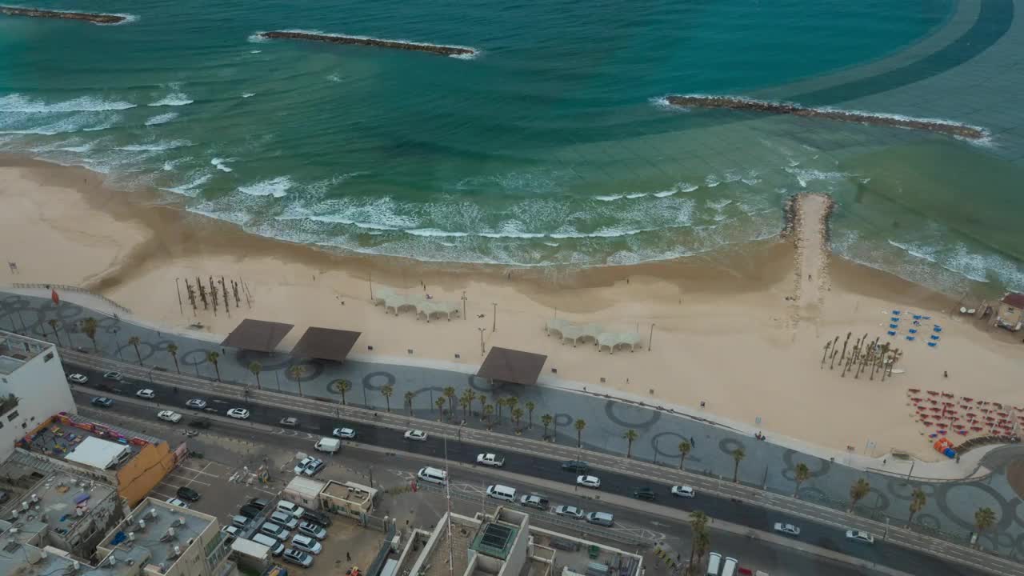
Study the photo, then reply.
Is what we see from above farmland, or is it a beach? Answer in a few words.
beach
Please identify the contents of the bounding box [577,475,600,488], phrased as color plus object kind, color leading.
white vehicle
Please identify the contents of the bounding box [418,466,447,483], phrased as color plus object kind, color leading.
white vehicle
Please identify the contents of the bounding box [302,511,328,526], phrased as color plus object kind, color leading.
black car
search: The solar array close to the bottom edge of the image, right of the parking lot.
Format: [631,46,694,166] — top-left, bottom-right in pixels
[482,526,514,553]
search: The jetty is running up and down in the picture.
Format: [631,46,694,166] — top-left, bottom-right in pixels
[779,190,838,349]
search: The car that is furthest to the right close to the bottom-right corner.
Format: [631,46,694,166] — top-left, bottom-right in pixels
[847,530,874,545]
